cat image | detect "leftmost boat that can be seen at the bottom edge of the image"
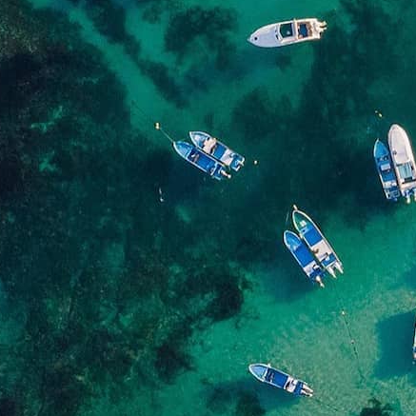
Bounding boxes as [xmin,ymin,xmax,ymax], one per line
[249,364,316,396]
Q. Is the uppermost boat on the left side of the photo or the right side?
right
